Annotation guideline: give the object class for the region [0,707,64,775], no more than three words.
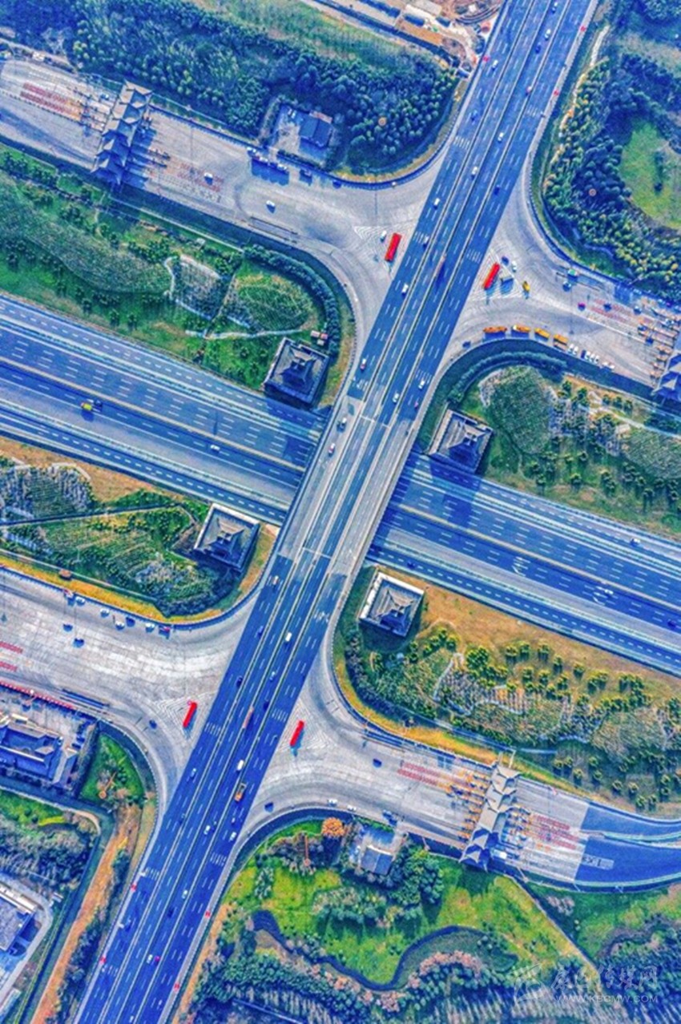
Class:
house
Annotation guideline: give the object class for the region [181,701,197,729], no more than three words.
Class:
vehicle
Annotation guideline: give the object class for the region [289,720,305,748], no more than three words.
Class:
vehicle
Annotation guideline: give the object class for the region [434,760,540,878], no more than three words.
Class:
toll station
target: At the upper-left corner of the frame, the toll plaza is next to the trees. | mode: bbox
[83,70,159,189]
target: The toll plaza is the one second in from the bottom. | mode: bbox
[630,289,681,403]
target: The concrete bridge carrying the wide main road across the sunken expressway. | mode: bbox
[280,416,409,563]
